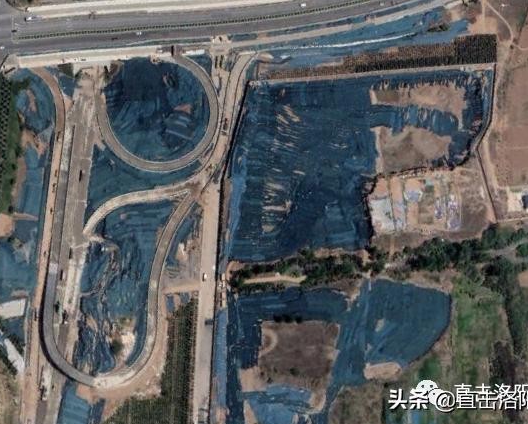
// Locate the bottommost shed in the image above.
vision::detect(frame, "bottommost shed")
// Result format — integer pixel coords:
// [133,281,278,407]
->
[2,338,27,374]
